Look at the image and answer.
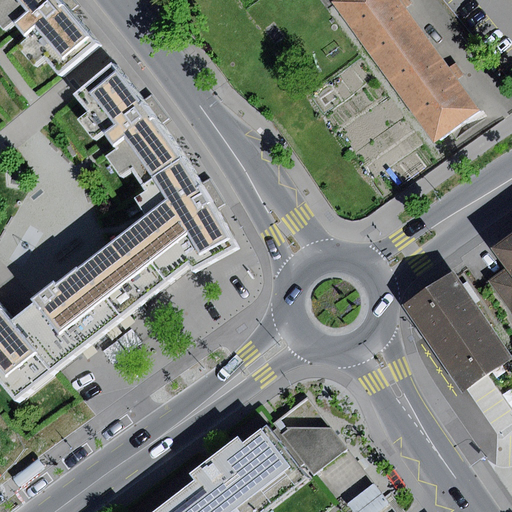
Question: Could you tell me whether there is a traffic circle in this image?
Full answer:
Yes, there's a traffic circle here.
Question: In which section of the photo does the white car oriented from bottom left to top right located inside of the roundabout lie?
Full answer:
Look in the right portion of the view to spot the white car oriented from bottom left to top right located inside of the roundabout.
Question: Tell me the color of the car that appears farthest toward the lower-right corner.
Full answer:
The car that appears farthest toward the lower-right corner looks black in the image.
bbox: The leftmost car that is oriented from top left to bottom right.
[203,300,221,321]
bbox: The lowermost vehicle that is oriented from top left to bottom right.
[449,486,468,510]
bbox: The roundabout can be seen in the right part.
[270,238,402,369]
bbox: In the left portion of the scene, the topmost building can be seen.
[0,0,106,78]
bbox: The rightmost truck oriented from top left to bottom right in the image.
[479,248,500,273]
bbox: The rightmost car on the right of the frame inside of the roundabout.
[372,292,394,317]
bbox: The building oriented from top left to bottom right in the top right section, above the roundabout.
[330,0,488,141]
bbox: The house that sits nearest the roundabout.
[402,271,512,394]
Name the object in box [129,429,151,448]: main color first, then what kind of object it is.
black car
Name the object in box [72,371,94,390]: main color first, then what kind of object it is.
white car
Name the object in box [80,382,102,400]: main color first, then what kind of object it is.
black car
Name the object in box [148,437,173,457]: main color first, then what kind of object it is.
white car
